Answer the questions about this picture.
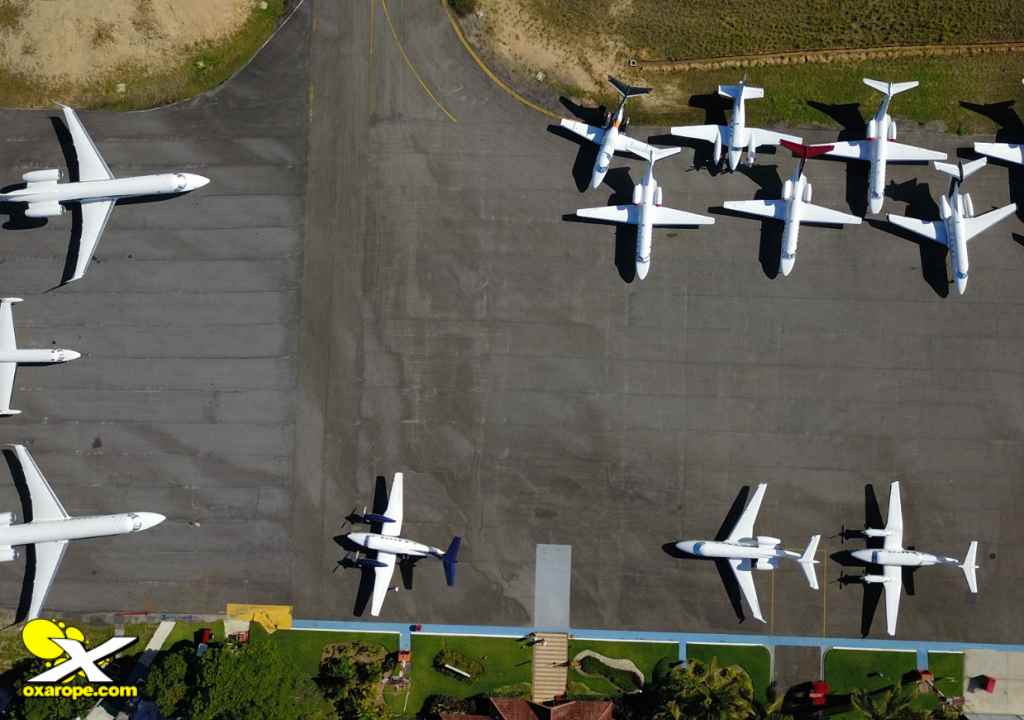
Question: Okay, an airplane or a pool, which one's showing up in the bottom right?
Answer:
airplane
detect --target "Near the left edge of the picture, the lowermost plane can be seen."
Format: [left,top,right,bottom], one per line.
[0,446,166,625]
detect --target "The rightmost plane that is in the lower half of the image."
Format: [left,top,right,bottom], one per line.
[851,481,979,634]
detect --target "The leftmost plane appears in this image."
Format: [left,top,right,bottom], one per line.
[0,297,81,414]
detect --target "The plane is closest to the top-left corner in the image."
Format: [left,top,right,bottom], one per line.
[0,101,211,280]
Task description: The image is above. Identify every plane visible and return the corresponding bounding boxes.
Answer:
[348,473,461,614]
[559,75,663,188]
[675,483,821,623]
[851,481,979,634]
[671,74,802,170]
[725,142,861,276]
[577,147,714,280]
[889,158,1017,294]
[0,297,81,414]
[0,446,166,625]
[810,79,946,213]
[0,101,211,280]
